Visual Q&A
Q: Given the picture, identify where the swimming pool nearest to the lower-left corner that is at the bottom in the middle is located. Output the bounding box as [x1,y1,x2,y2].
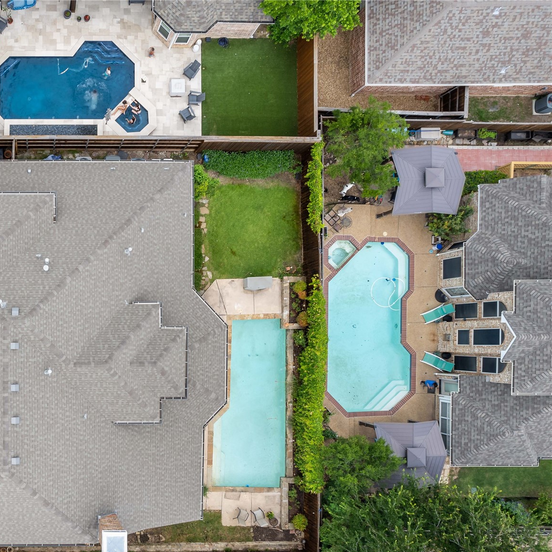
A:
[208,313,287,492]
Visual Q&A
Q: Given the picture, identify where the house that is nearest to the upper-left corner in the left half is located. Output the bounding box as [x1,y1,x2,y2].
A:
[149,0,272,51]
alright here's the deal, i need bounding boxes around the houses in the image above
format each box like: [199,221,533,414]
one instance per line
[348,0,552,98]
[149,0,272,51]
[0,158,230,552]
[430,171,552,469]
